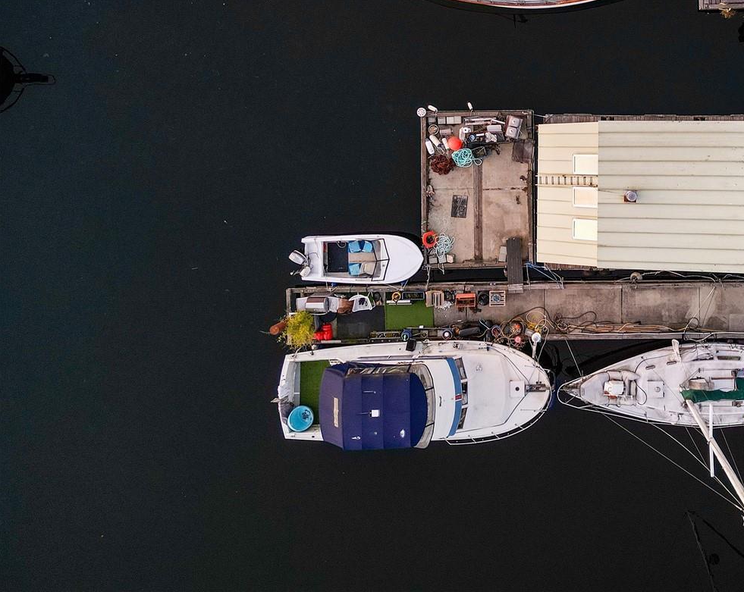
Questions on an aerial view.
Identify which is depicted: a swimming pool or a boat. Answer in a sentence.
This aerial view contains a boat.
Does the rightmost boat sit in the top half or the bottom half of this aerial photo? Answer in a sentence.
The rightmost boat is in the bottom half of the image.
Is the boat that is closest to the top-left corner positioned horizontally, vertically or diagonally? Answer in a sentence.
Seen from above, the boat that is closest to the top-left corner lies horizontally.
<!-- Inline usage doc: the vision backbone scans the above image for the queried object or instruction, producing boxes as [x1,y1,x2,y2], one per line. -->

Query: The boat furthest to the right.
[556,343,744,526]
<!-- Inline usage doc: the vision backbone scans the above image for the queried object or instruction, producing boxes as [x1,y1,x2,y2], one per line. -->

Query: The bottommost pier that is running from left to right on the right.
[287,282,744,342]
